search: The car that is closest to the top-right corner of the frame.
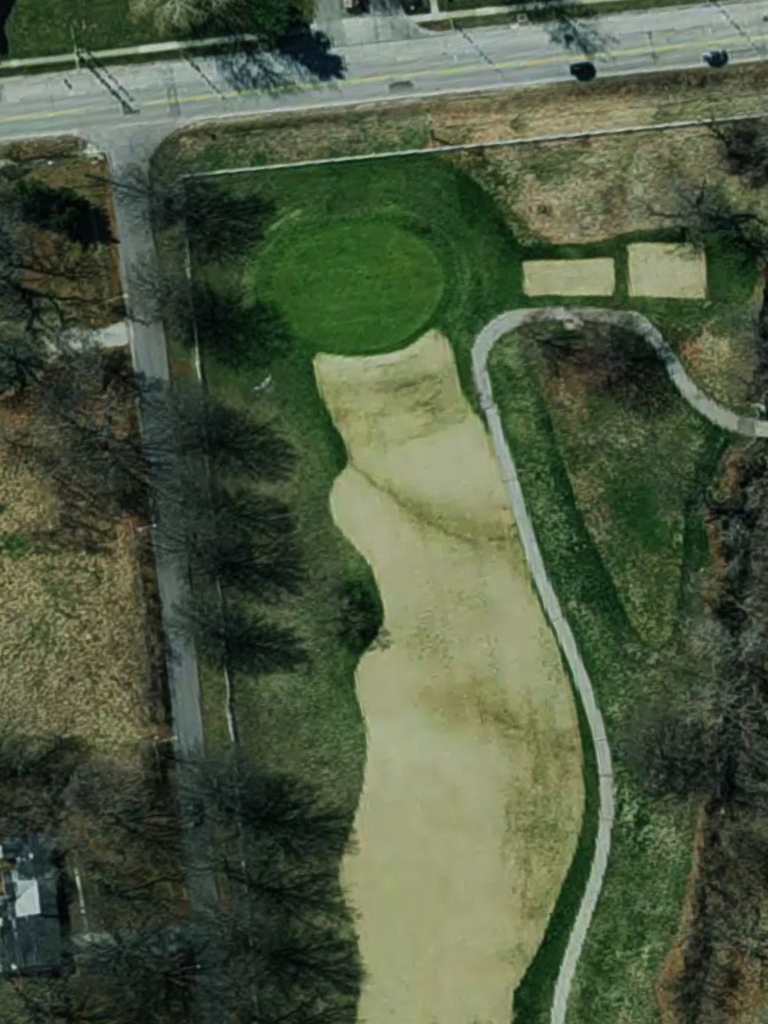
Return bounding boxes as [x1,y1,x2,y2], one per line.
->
[703,50,730,64]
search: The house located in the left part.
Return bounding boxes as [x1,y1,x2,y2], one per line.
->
[0,842,61,974]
